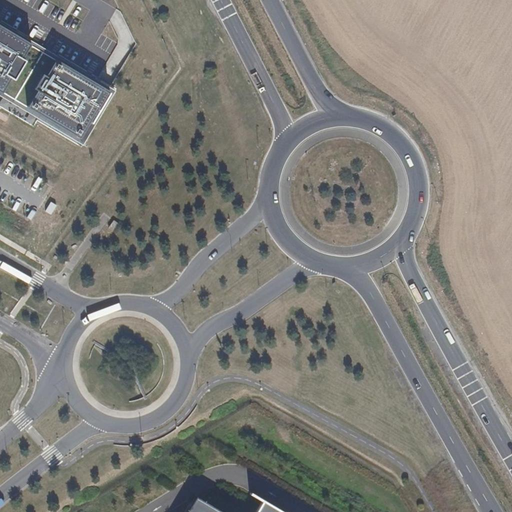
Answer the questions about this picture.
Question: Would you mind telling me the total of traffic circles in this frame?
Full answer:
I count 2 traffic circles.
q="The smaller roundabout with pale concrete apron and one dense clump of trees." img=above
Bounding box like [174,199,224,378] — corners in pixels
[54,294,198,436]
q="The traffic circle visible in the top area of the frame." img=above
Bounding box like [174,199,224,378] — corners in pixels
[258,106,430,278]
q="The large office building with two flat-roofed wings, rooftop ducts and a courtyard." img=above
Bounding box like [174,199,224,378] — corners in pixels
[0,26,118,149]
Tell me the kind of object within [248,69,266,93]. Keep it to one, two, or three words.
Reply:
vehicle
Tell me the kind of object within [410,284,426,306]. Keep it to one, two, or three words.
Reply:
vehicle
